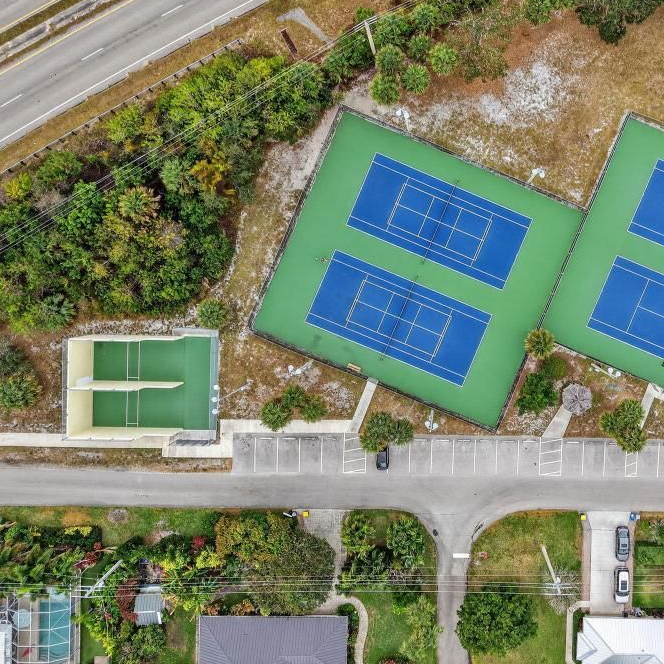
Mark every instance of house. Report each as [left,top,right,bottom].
[0,624,13,664]
[583,613,664,664]
[198,612,348,664]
